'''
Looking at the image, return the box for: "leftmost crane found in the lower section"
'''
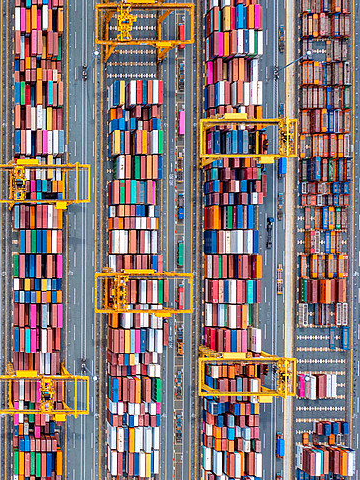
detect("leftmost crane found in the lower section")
[0,360,89,422]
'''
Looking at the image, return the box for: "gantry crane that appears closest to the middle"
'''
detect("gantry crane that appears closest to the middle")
[95,263,194,321]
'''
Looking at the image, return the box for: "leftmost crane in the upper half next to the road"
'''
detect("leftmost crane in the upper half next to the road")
[0,158,90,210]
